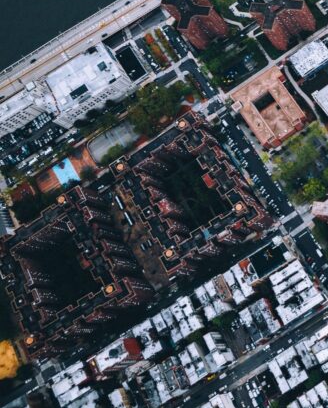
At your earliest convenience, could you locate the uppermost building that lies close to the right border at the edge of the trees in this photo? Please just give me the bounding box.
[250,0,317,50]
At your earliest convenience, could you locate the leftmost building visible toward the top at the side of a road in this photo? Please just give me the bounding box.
[0,82,67,146]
